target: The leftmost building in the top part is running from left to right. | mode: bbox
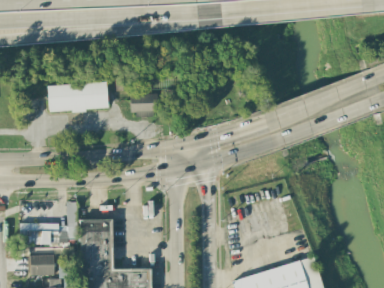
[47,81,110,112]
